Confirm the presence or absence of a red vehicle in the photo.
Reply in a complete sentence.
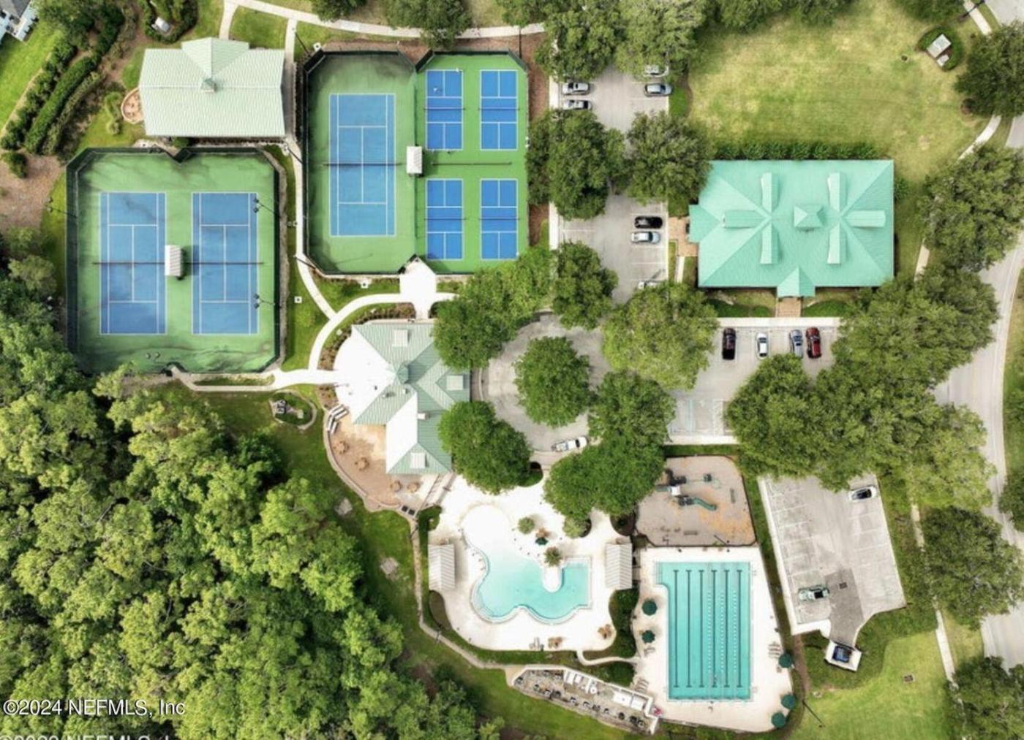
Yes, the photo shows a red vehicle.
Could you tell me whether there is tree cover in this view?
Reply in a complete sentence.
Yes, there is tree cover in the image.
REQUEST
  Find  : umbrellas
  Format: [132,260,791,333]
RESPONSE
[651,703,662,715]
[769,711,785,726]
[535,535,548,547]
[777,651,792,667]
[779,693,795,708]
[641,598,657,614]
[641,628,655,643]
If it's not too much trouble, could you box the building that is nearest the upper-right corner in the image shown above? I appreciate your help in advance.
[684,159,894,298]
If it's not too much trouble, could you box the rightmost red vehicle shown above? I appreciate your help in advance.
[804,328,821,358]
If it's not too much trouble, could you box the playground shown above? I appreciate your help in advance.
[659,470,723,512]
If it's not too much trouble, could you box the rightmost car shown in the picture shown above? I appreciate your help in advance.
[847,485,878,501]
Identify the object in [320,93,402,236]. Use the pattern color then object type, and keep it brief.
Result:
blue tennis court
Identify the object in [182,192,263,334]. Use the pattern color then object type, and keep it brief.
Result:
blue tennis court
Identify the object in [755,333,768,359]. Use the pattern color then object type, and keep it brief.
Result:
white vehicle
